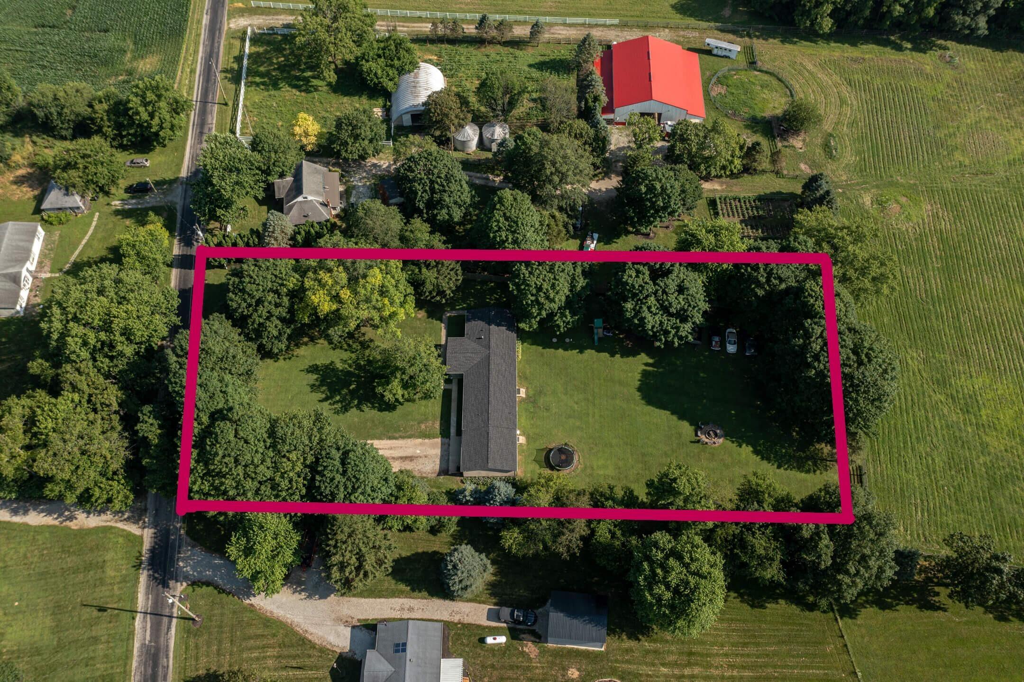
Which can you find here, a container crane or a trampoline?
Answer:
trampoline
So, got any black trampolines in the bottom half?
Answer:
Yes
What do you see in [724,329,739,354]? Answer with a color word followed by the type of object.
black car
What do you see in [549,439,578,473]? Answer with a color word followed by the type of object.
black trampoline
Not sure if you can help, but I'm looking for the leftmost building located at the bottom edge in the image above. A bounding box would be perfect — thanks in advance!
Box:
[363,620,465,682]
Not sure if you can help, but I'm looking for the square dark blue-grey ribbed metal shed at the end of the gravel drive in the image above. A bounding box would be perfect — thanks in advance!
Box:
[547,591,607,651]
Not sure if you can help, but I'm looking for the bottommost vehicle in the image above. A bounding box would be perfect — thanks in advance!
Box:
[497,606,540,627]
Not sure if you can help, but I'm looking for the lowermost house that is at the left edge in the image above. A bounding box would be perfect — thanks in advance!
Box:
[0,218,49,331]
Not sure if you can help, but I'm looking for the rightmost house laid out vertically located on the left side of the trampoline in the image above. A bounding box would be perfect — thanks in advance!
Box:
[446,305,527,478]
